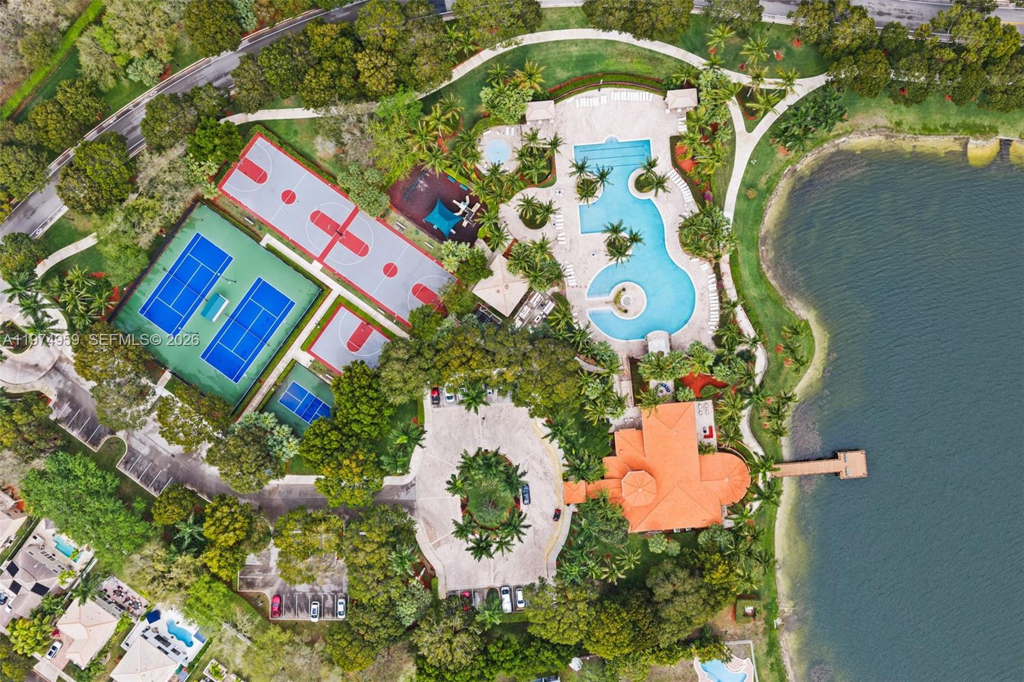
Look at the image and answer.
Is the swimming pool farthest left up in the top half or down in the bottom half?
bottom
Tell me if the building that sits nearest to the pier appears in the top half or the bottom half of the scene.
bottom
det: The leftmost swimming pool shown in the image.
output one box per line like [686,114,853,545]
[52,533,82,564]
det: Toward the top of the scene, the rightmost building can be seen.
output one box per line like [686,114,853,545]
[666,88,698,112]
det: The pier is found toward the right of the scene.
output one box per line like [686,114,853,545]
[771,451,870,479]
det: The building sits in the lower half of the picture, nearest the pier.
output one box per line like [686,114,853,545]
[563,401,753,533]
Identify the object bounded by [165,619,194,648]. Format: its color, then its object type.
blue swimming pool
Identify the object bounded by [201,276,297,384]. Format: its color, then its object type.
blue tennis court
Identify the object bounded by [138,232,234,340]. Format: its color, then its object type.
blue tennis court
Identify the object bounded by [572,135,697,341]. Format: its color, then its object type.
blue swimming pool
